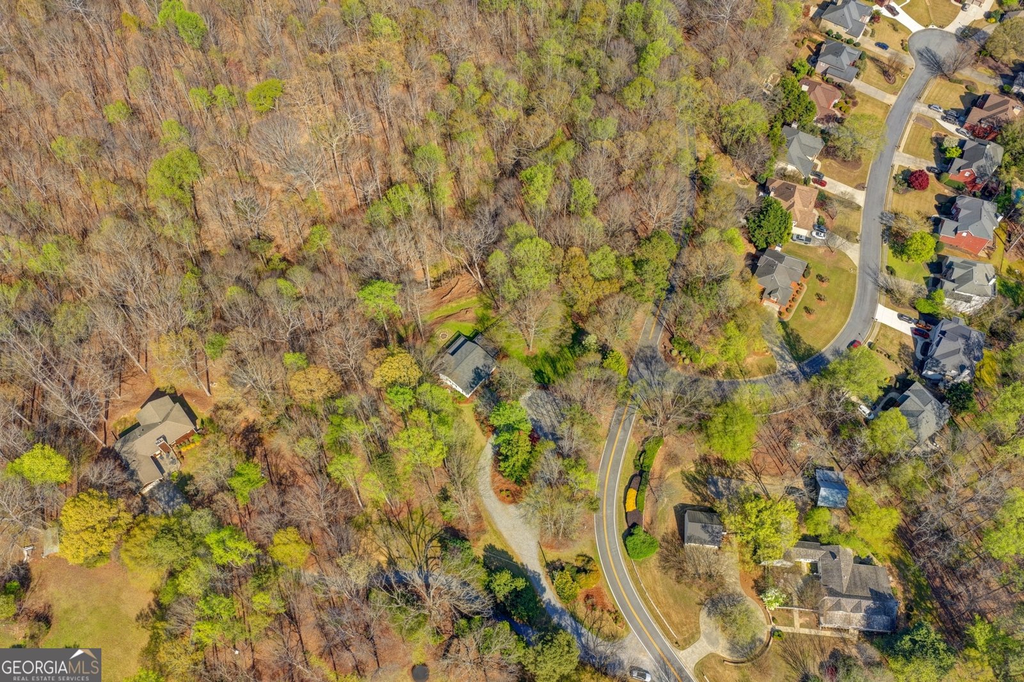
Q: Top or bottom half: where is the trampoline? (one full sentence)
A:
The trampoline is in the bottom half of the image.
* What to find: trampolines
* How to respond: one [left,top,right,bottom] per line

[409,660,431,682]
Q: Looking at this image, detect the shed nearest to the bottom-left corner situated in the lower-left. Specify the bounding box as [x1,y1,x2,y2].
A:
[42,527,65,559]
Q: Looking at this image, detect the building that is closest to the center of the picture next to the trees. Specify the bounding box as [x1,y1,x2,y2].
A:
[431,335,500,404]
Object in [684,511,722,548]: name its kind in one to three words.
building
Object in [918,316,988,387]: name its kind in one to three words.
house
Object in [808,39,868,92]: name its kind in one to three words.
house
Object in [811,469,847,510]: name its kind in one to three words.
barn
